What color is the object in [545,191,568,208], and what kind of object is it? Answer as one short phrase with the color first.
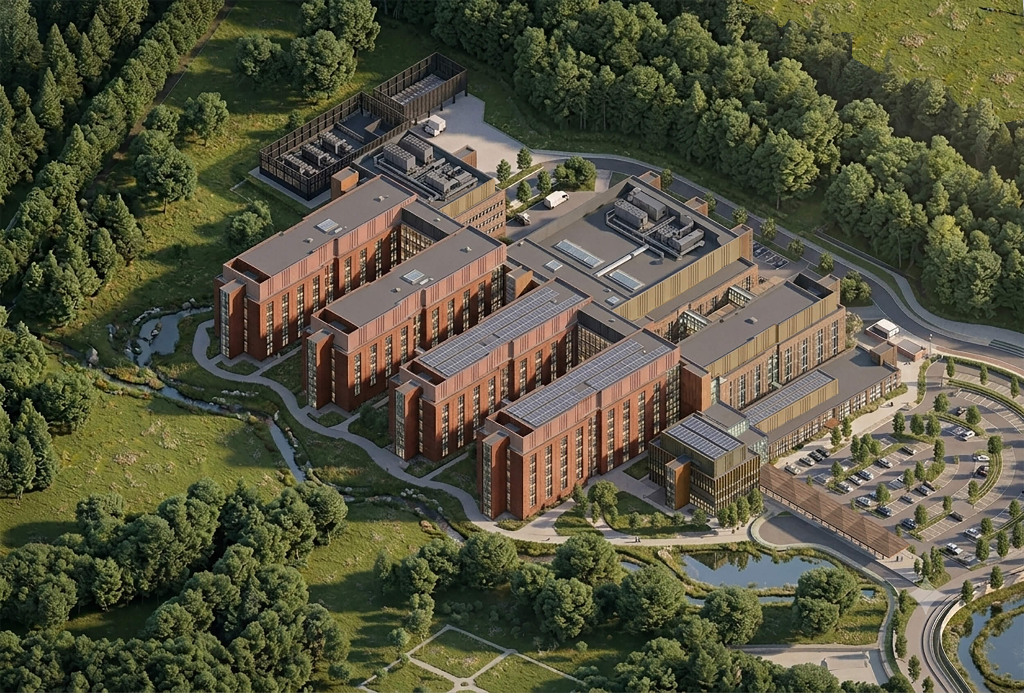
white vehicle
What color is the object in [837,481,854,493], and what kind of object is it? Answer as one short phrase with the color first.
white vehicle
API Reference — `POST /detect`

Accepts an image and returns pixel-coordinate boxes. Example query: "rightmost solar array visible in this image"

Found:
[749,375,832,426]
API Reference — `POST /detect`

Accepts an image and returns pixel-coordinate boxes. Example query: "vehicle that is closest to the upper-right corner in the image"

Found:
[873,320,897,340]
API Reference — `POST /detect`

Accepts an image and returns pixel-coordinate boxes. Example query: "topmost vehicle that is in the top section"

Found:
[425,115,445,137]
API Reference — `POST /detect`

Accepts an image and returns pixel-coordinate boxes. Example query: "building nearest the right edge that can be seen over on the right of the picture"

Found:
[896,339,926,365]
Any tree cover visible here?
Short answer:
Yes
